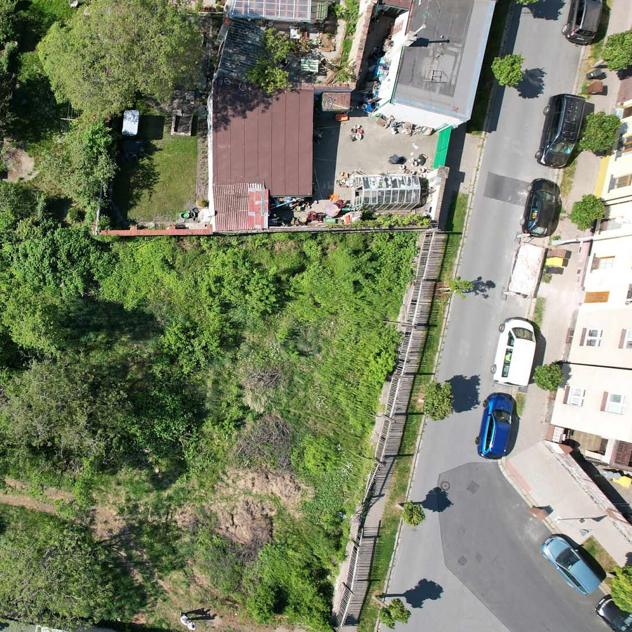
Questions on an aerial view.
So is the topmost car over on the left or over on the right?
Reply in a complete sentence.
The topmost car appears in the right half of the scene.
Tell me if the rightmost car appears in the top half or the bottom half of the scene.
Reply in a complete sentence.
Seen from above, the rightmost car lies in the bottom half of the view.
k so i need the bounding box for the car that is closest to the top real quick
[557,0,605,48]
